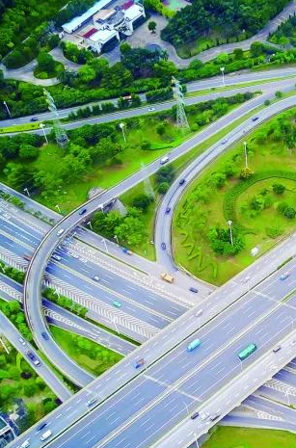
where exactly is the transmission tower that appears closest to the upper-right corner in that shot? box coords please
[168,76,192,129]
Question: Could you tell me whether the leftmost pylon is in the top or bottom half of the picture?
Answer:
top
